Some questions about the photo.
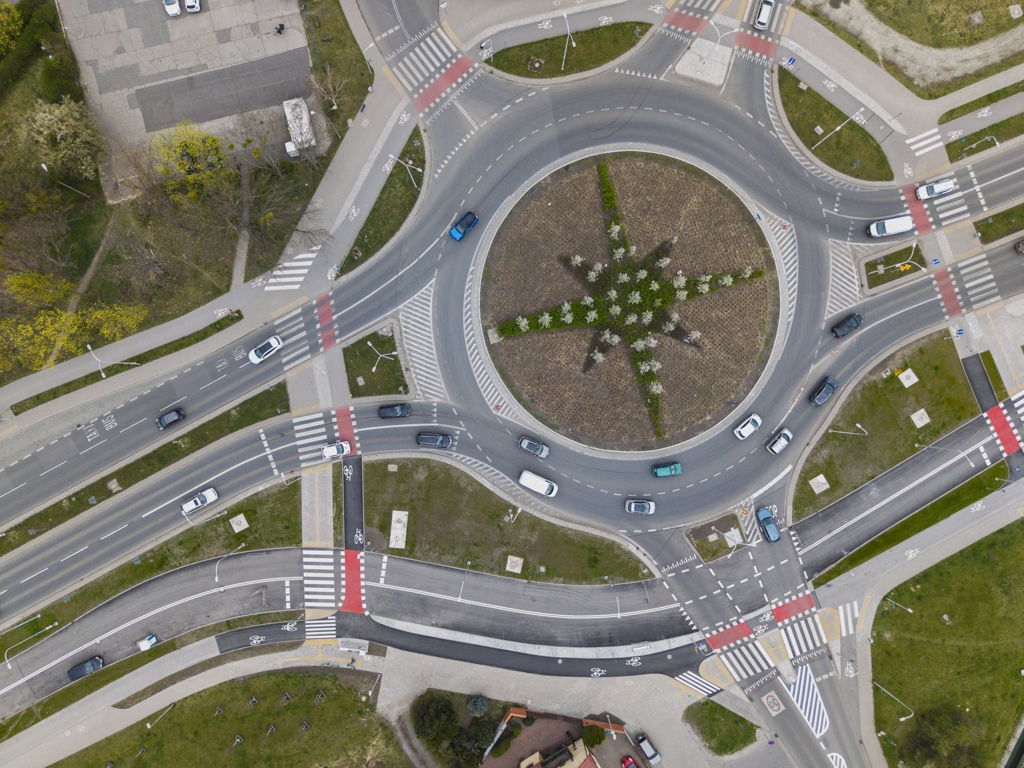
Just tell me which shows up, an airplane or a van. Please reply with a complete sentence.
The one in the frame is a van.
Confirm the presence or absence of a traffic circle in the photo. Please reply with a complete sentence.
Yes, the frame does contain a traffic circle.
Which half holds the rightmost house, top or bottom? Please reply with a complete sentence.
The rightmost house sits in the bottom half of the picture.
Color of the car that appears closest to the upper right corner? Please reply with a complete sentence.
The car that appears closest to the upper right corner is white.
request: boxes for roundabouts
[401,73,860,531]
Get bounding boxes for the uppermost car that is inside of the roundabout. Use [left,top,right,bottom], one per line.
[451,212,478,242]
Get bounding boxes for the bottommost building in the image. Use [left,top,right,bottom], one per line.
[520,728,601,768]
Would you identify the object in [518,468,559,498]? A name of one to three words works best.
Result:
van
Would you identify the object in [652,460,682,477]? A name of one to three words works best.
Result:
car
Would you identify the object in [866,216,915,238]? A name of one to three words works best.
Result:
vehicle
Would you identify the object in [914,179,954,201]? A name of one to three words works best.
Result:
car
